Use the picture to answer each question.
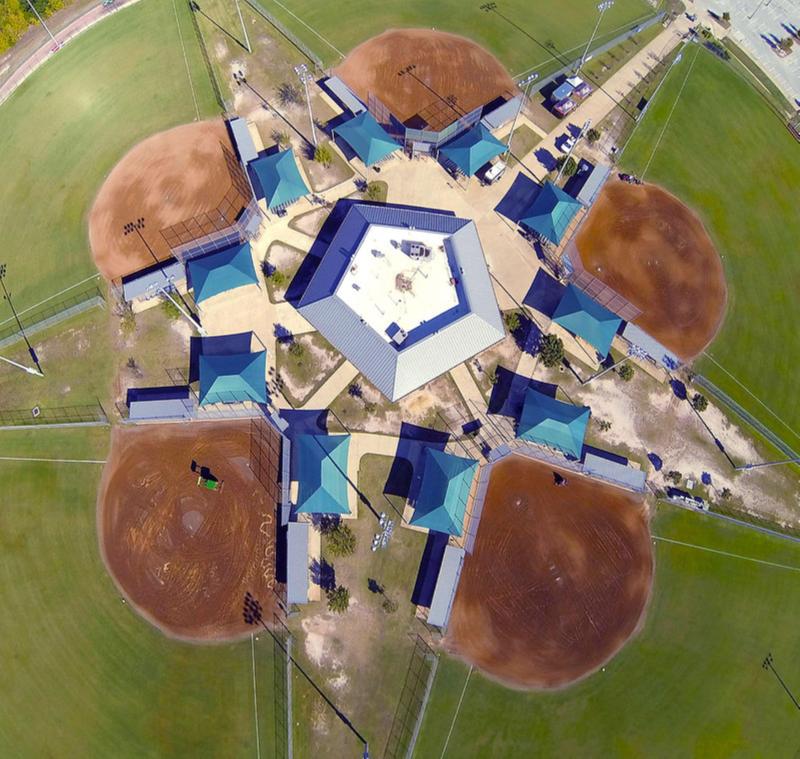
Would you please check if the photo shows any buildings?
Yes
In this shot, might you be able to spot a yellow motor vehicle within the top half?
No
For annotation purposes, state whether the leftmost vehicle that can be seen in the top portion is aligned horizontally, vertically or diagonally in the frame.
diagonally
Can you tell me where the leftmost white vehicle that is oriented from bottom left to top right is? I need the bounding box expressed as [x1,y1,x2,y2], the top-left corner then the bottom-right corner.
[483,159,508,184]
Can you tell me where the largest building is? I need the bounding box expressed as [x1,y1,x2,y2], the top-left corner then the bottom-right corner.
[298,205,505,402]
